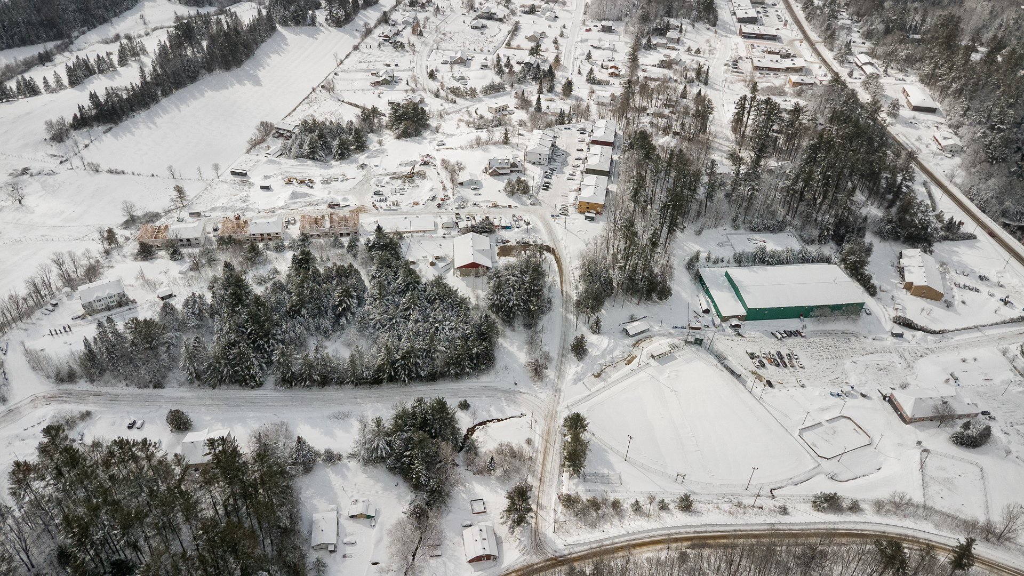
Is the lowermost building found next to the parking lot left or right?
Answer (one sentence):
The lowermost building found next to the parking lot is on the right side of the image.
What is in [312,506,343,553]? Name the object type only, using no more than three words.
house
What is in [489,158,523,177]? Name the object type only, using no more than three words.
house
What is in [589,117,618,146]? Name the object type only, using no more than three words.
building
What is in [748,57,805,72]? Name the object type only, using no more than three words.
building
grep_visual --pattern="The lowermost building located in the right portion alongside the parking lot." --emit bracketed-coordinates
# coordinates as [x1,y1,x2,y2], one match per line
[888,387,979,423]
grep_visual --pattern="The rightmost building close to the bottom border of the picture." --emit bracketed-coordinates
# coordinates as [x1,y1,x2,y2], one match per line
[464,520,498,561]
